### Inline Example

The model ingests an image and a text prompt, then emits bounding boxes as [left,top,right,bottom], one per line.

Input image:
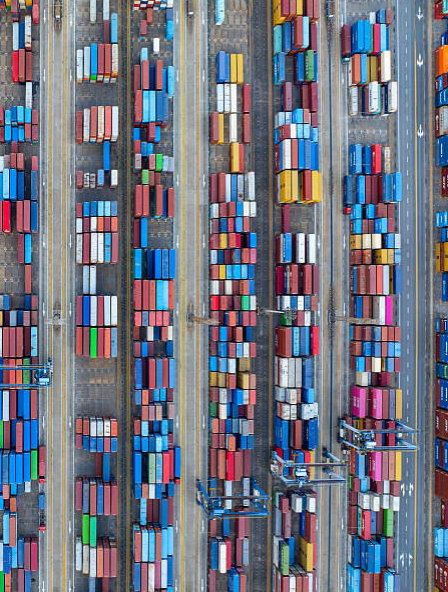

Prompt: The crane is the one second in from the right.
[271,448,349,487]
